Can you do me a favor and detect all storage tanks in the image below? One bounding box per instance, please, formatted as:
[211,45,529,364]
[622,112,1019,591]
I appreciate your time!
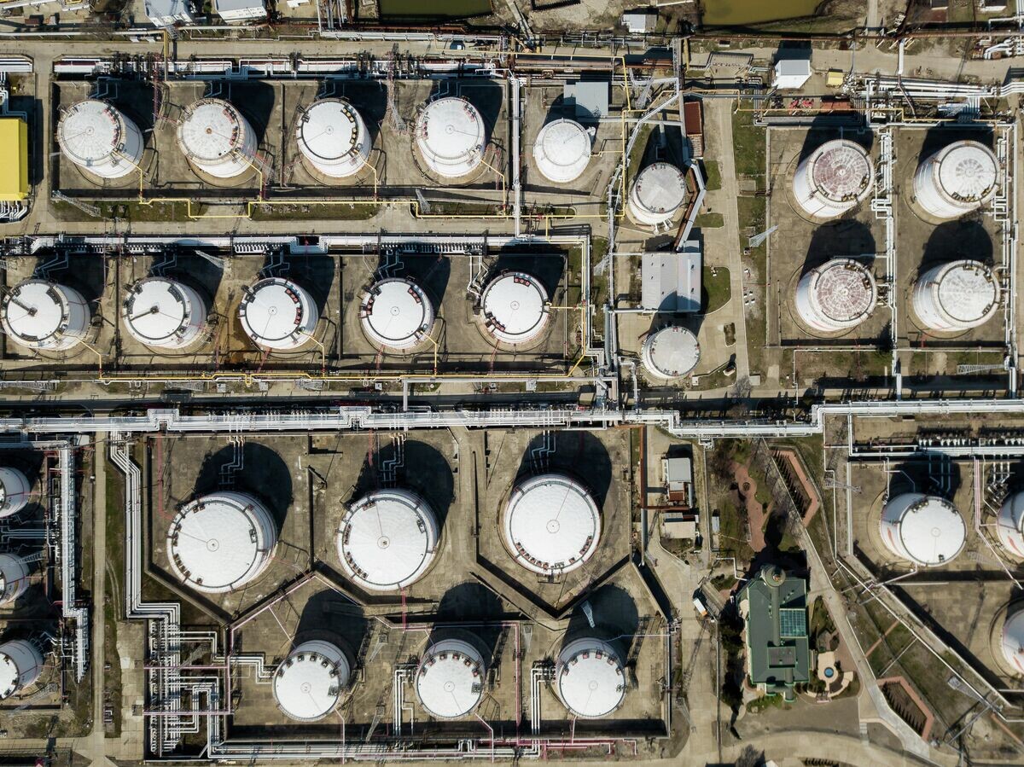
[413,631,498,721]
[0,279,96,355]
[0,460,34,524]
[337,483,444,592]
[907,139,1003,224]
[993,486,1024,561]
[637,325,702,383]
[53,98,149,183]
[530,117,595,183]
[412,97,490,181]
[116,277,212,353]
[0,548,34,613]
[548,630,640,720]
[497,466,602,589]
[624,160,688,228]
[905,252,1002,338]
[273,629,365,720]
[874,486,970,567]
[356,278,440,355]
[233,277,323,354]
[292,97,377,181]
[166,486,282,595]
[787,140,876,222]
[0,632,47,706]
[171,98,262,182]
[468,272,552,347]
[789,257,881,336]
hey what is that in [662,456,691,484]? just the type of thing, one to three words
building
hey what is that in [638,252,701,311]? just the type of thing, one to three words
building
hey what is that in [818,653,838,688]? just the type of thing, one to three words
fountain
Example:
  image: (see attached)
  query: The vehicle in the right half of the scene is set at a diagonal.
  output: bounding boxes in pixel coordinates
[692,599,709,617]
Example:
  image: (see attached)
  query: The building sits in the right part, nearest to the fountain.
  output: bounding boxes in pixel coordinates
[732,558,816,703]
